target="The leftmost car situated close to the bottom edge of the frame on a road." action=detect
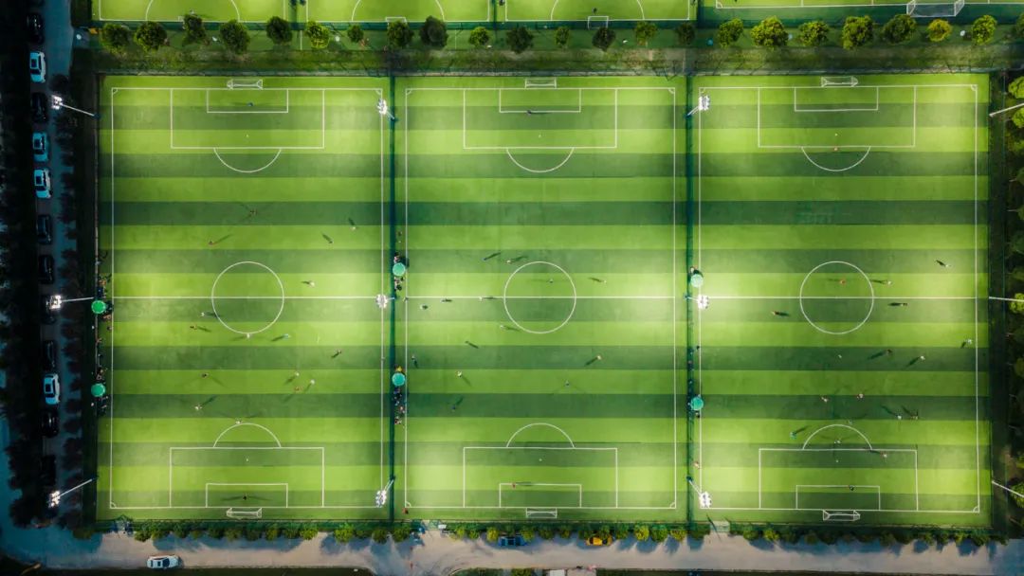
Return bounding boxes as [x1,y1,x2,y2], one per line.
[147,553,181,570]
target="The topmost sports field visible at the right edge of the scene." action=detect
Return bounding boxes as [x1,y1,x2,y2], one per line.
[701,0,1024,28]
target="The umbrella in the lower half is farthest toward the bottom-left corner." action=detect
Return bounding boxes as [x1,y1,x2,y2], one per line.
[92,383,108,397]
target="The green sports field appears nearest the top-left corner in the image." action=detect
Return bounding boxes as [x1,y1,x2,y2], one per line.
[93,0,295,28]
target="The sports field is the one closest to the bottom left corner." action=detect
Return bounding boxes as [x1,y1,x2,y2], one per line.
[97,76,388,521]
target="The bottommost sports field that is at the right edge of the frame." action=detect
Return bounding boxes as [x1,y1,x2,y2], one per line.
[692,74,992,527]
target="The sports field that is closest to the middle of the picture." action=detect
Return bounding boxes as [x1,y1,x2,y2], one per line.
[394,76,687,521]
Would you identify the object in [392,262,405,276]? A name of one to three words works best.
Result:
umbrella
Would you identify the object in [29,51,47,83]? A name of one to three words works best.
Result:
car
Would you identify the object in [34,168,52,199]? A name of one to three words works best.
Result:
car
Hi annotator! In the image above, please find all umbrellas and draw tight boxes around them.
[690,397,704,411]
[92,300,109,314]
[690,273,704,287]
[92,383,108,397]
[392,373,405,386]
[392,262,405,276]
